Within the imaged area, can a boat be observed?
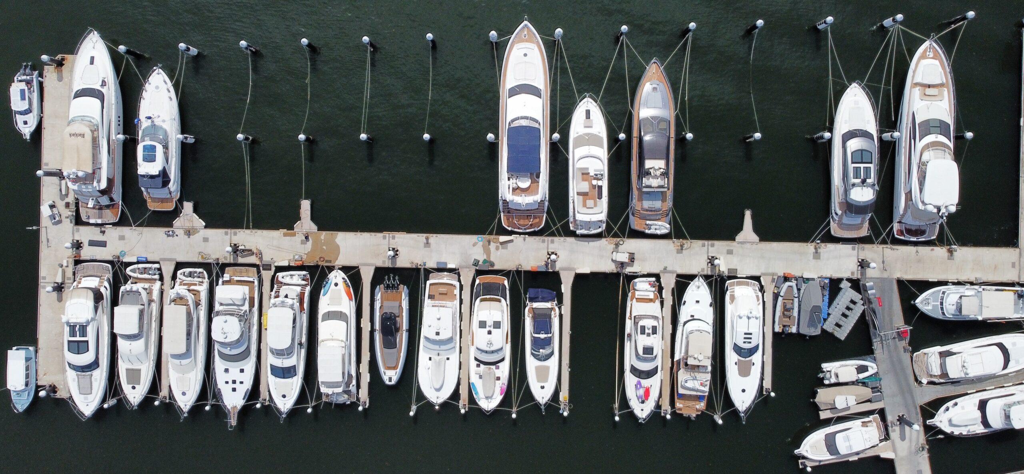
Yes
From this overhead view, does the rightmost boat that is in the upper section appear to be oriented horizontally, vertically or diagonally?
vertically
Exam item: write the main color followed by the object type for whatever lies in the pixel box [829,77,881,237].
white boat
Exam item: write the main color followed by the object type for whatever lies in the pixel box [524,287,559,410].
white boat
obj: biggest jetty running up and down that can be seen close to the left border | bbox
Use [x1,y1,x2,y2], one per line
[37,54,78,398]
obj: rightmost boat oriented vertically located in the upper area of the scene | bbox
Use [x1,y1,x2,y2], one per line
[892,34,959,240]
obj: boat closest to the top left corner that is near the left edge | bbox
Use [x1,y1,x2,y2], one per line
[10,58,44,142]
